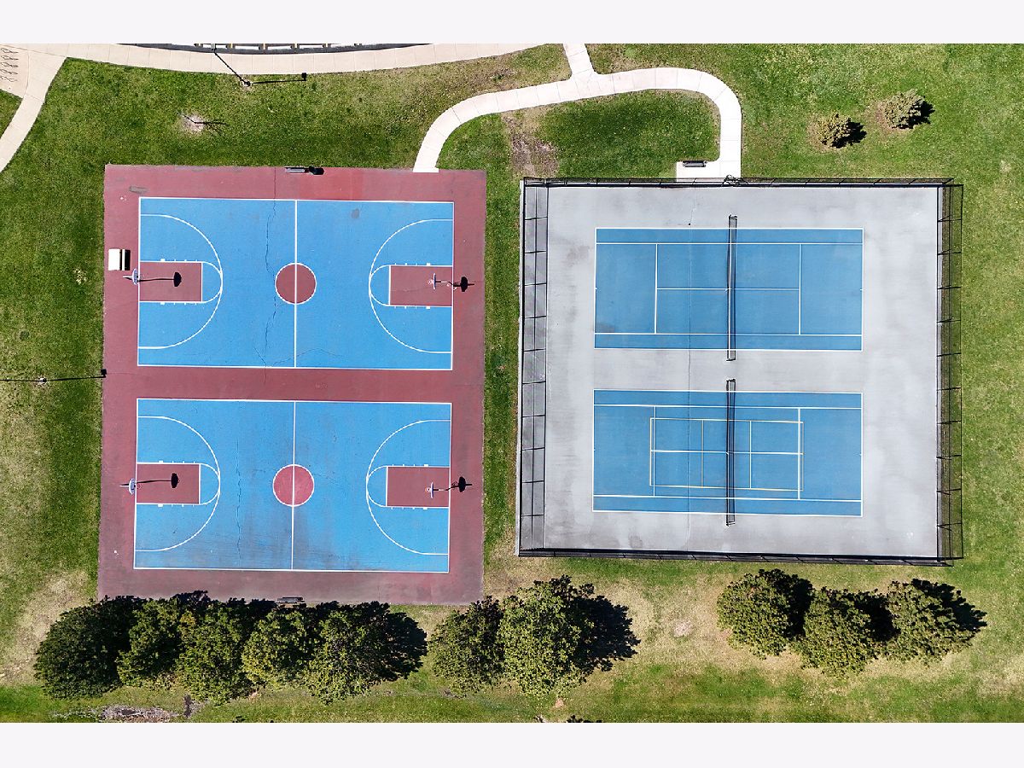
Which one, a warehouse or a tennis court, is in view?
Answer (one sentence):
The one in the frame is a tennis court.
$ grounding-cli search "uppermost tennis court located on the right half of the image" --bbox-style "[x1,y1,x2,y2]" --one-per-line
[594,227,864,351]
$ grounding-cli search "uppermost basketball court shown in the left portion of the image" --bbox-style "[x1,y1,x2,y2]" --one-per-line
[137,198,454,371]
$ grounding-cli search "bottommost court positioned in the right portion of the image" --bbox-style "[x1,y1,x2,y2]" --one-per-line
[592,389,863,517]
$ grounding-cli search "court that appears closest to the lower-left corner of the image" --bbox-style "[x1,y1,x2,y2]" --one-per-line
[133,399,452,573]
